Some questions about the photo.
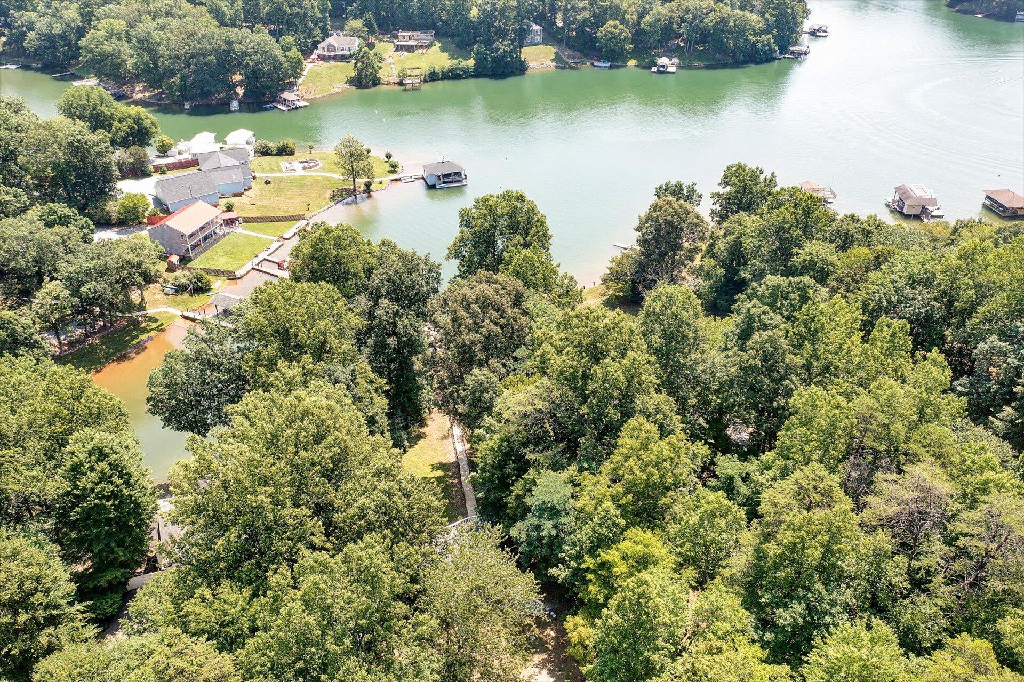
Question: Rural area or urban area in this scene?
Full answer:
The area shown here is rural.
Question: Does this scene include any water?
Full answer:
Yes, some water is visible.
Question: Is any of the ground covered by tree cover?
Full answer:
Yes, the picture does contain tree cover.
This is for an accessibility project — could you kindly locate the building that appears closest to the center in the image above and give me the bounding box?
[426,154,469,188]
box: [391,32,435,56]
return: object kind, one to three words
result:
house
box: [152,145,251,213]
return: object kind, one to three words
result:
house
